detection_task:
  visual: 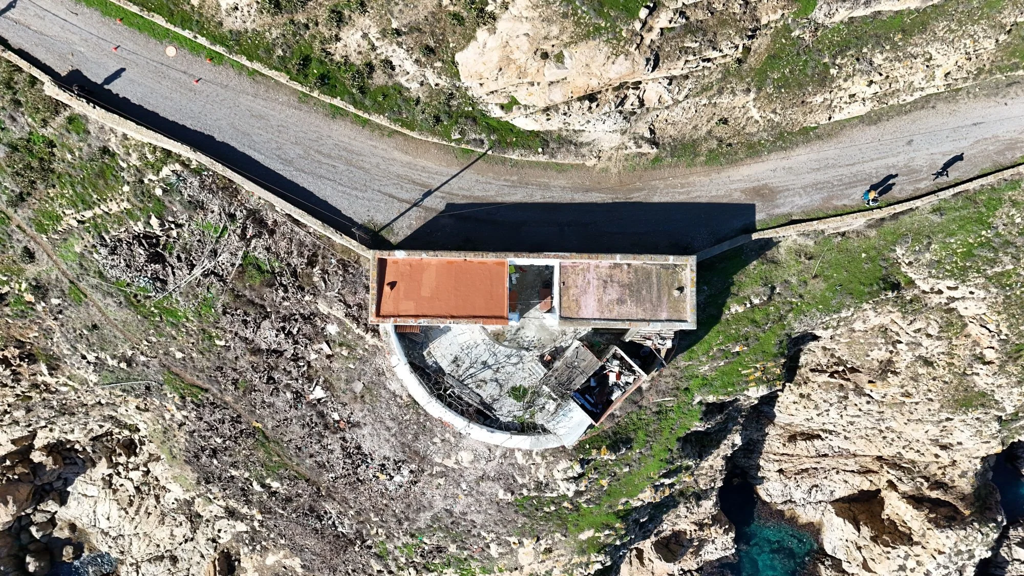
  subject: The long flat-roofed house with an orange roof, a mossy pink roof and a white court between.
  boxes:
[370,250,696,328]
